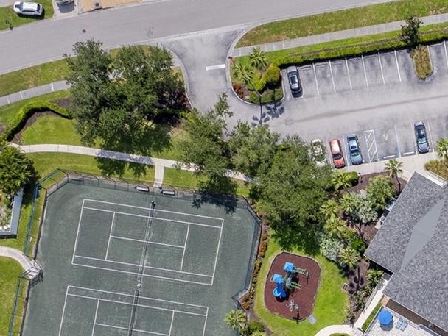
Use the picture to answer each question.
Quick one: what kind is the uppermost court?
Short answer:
tennis court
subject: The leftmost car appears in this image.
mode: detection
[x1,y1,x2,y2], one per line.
[15,0,45,17]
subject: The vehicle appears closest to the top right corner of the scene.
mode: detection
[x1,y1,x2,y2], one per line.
[415,122,428,153]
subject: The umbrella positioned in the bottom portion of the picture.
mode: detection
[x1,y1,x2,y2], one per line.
[378,308,393,323]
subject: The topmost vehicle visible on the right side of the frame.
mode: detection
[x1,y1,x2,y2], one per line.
[287,64,302,94]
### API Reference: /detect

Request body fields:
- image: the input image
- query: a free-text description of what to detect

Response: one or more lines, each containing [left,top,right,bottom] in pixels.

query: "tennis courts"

[20,273,242,336]
[36,182,260,297]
